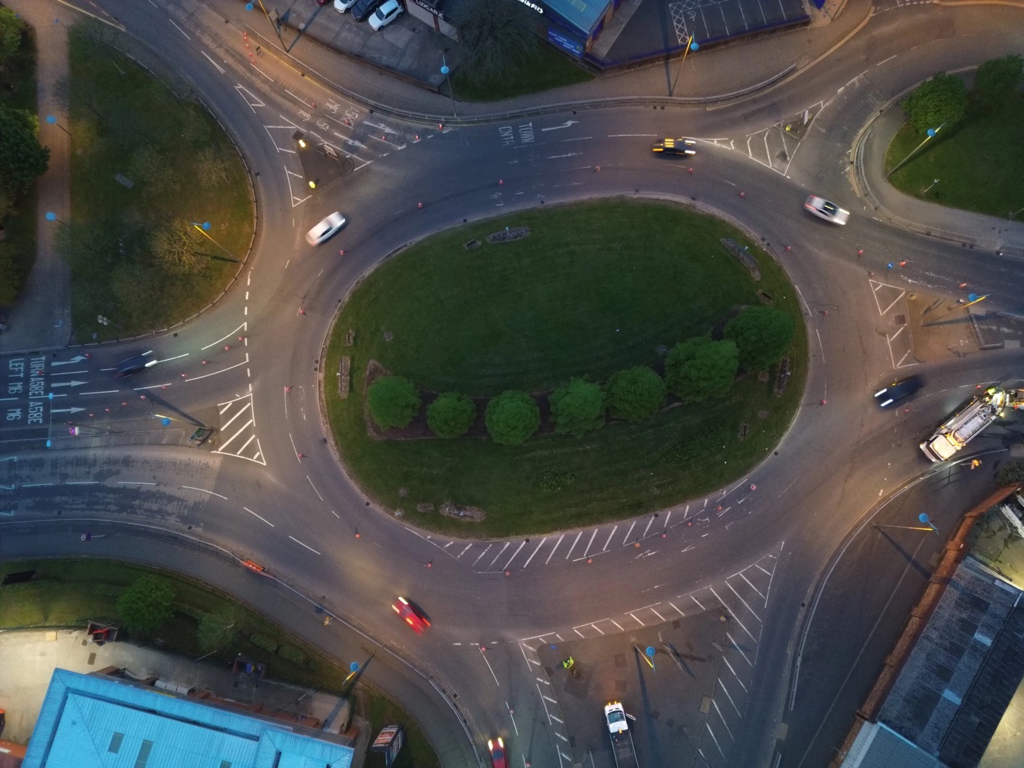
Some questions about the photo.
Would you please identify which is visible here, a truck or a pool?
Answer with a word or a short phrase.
truck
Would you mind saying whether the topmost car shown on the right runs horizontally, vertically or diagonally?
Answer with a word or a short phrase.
horizontally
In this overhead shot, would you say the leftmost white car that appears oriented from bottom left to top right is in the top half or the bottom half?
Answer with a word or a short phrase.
top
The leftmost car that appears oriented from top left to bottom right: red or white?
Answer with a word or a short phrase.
red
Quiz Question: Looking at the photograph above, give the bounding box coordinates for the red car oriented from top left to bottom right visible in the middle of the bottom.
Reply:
[393,596,430,636]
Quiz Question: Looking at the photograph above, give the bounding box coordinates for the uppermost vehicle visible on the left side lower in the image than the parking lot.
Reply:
[307,213,347,246]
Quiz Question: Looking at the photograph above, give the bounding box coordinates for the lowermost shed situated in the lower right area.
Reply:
[814,705,940,768]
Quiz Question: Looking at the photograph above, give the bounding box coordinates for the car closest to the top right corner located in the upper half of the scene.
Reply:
[805,197,848,225]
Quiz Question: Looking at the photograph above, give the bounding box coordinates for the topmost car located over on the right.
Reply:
[654,139,694,159]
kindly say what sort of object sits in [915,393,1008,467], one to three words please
truck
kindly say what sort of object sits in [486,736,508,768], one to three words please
car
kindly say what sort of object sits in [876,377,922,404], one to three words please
car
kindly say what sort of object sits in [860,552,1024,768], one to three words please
building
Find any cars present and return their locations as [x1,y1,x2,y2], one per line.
[307,213,347,246]
[369,0,405,29]
[486,736,508,768]
[654,139,694,159]
[115,352,156,377]
[335,0,360,12]
[352,0,388,20]
[805,197,848,225]
[876,377,922,404]
[315,0,333,7]
[393,596,430,636]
